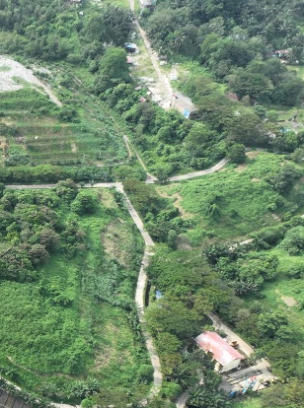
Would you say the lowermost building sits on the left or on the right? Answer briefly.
right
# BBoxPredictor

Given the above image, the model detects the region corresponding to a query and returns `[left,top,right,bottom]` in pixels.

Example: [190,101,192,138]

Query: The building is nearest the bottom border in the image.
[189,336,242,378]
